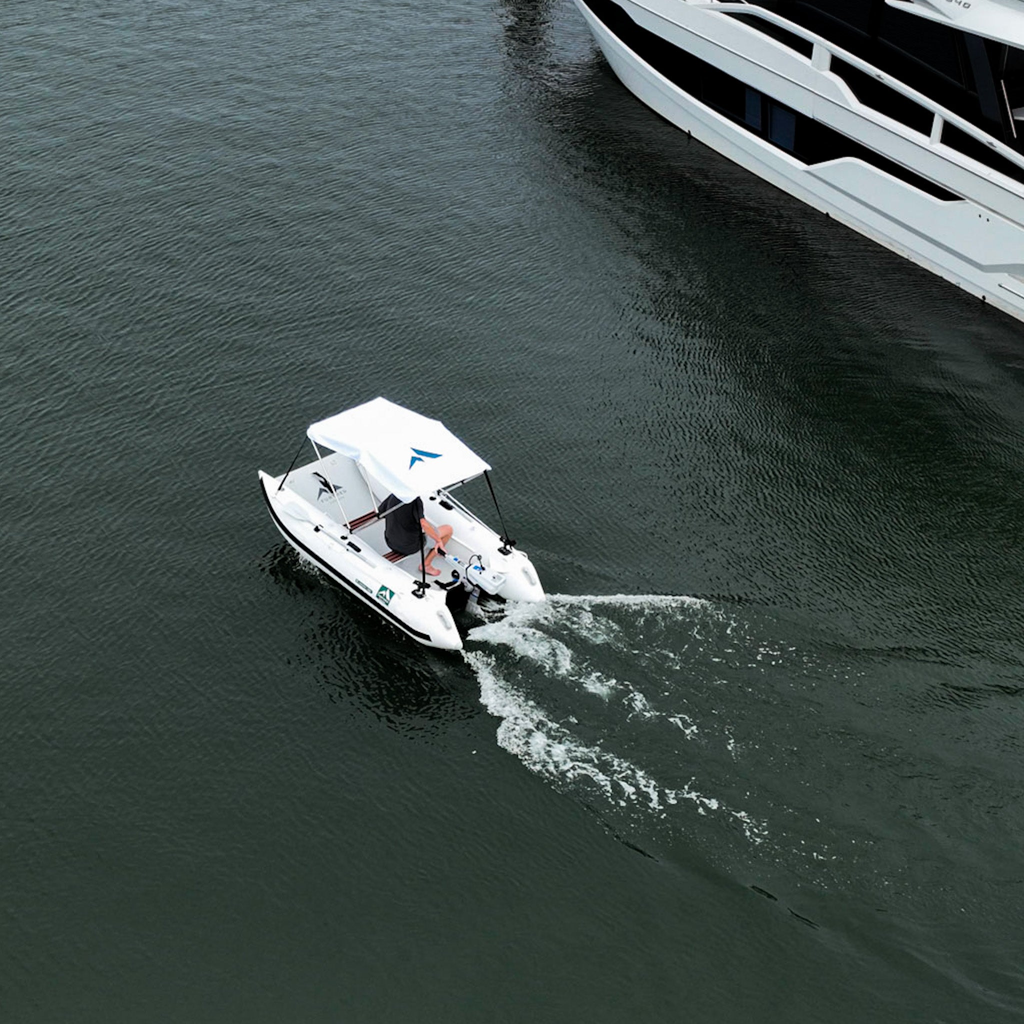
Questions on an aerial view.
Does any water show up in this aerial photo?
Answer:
Yes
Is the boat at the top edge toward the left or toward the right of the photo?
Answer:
right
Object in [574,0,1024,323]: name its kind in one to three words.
boat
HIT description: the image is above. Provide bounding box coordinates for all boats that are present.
[257,399,547,651]
[574,0,1024,323]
